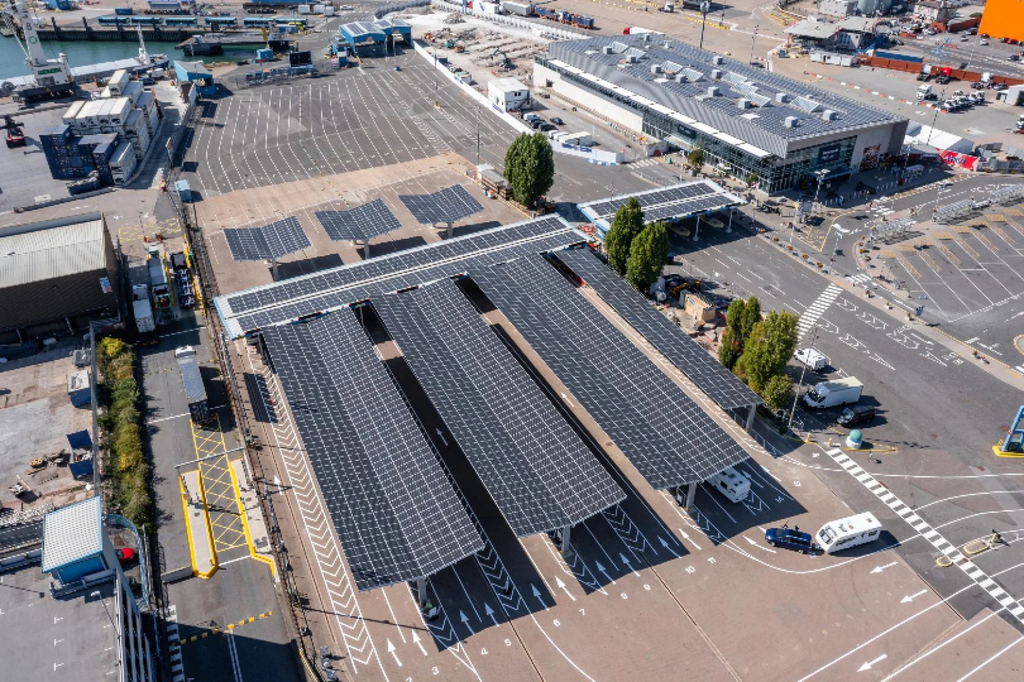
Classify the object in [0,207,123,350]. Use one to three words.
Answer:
warehouse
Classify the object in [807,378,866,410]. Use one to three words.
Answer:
van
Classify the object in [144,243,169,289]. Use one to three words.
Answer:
trailer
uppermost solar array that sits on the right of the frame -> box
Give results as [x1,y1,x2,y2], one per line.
[549,36,903,138]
